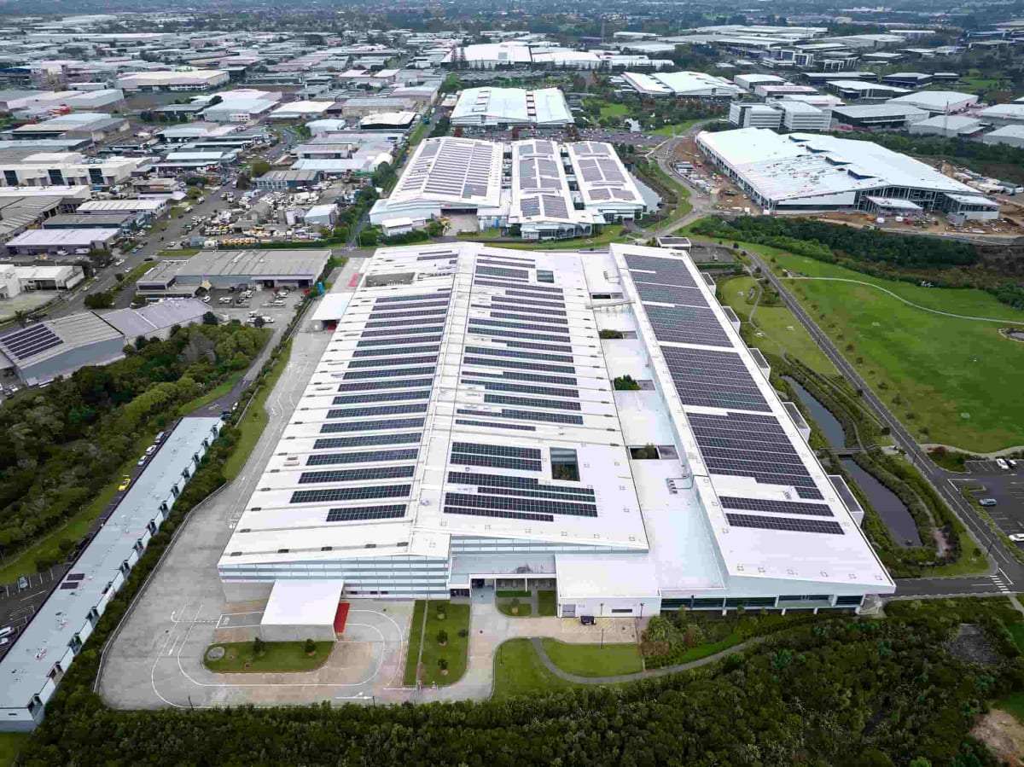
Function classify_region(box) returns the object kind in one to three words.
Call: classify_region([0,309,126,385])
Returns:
building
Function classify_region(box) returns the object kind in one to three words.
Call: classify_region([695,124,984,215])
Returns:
building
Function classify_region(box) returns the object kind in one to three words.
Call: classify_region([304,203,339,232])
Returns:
shed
